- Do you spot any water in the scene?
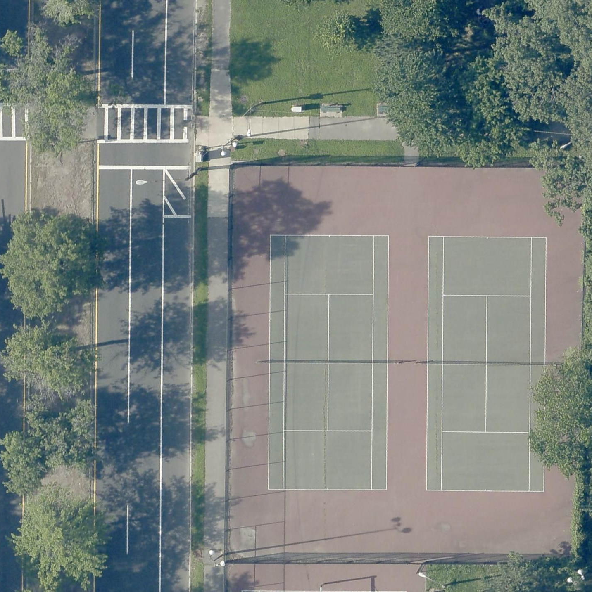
No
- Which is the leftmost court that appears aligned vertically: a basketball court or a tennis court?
tennis court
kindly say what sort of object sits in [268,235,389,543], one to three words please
tennis court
